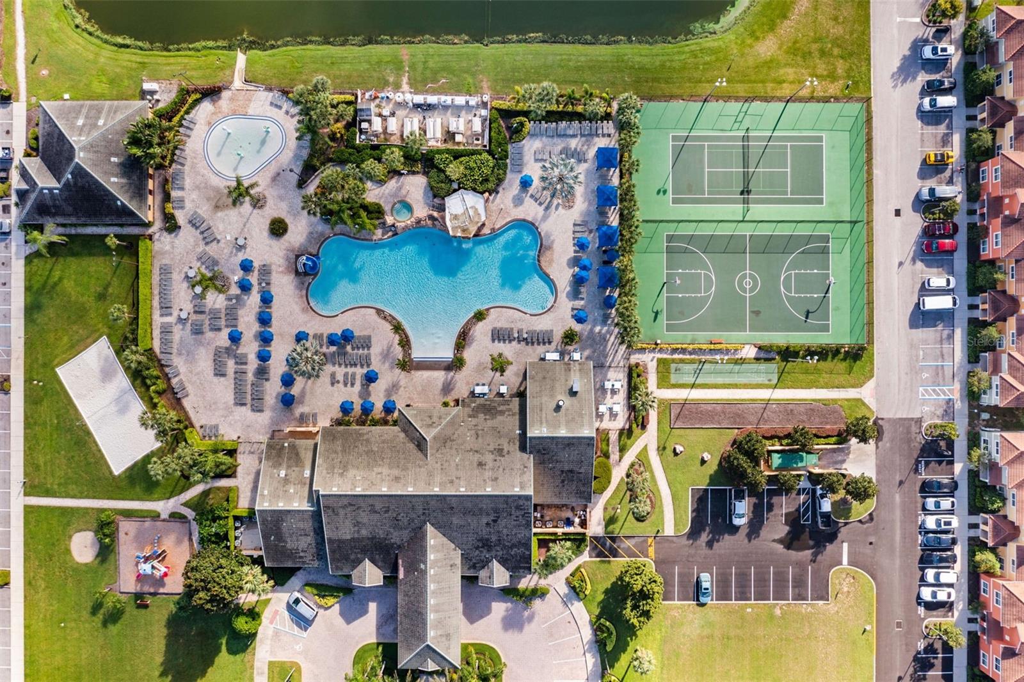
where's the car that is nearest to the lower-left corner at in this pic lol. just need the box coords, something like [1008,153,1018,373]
[288,591,317,621]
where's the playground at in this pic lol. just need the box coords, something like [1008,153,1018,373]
[116,519,191,595]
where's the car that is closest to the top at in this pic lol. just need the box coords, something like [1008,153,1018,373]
[920,44,955,60]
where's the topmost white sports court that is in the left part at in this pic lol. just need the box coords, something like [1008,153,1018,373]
[55,337,161,475]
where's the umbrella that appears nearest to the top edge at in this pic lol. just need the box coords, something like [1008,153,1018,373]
[519,174,533,188]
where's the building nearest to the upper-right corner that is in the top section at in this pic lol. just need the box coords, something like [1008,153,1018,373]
[977,5,1024,73]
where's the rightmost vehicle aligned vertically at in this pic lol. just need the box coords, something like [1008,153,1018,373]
[815,490,832,530]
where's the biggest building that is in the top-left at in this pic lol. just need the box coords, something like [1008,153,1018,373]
[5,101,155,223]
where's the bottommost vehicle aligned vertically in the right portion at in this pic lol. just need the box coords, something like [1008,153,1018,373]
[697,572,712,604]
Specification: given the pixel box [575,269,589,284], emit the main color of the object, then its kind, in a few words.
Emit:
blue umbrella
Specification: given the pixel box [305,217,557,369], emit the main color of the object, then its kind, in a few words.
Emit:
blue swimming pool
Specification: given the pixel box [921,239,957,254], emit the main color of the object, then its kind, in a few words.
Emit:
red car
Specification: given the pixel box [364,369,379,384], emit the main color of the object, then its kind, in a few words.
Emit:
blue umbrella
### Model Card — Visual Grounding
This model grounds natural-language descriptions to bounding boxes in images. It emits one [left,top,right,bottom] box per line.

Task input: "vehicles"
[923,77,956,93]
[921,552,956,567]
[921,239,957,254]
[919,587,954,603]
[923,275,955,290]
[697,572,712,604]
[923,497,956,512]
[923,479,957,494]
[923,221,957,237]
[918,294,959,311]
[815,490,832,530]
[923,569,957,585]
[732,486,748,524]
[920,95,956,111]
[923,534,957,549]
[923,515,958,531]
[921,185,956,200]
[920,44,955,60]
[924,150,955,165]
[288,591,317,621]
